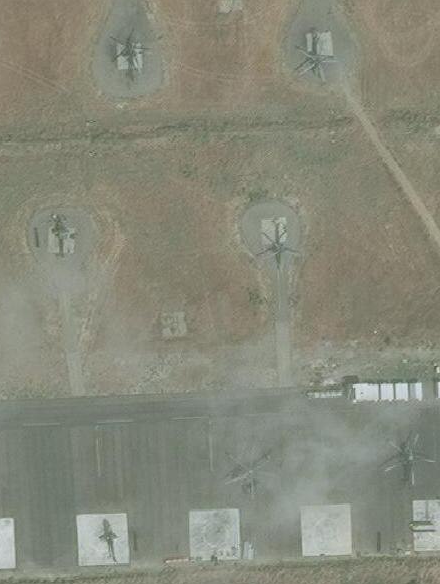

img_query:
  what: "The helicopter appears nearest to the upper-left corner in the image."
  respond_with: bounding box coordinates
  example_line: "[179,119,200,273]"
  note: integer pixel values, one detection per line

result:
[107,24,156,85]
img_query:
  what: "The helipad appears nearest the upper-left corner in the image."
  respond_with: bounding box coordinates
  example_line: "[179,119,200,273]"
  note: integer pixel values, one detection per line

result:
[117,43,143,70]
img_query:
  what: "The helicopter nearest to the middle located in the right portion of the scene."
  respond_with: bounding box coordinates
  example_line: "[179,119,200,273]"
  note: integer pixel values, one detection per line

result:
[252,216,303,274]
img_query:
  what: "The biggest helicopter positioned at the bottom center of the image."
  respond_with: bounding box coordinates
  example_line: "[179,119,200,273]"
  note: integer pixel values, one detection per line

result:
[226,436,277,498]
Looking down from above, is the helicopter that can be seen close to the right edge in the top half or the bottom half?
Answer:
bottom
